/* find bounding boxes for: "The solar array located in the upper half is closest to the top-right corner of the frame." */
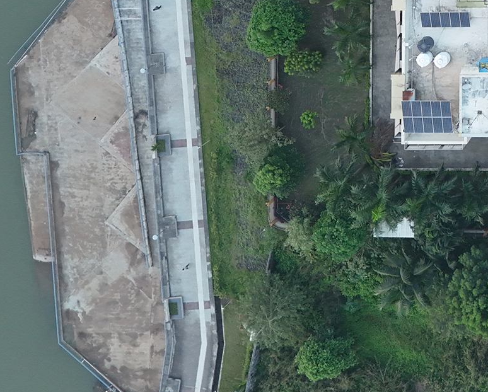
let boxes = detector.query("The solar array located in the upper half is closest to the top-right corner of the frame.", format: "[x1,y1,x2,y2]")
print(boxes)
[421,13,469,31]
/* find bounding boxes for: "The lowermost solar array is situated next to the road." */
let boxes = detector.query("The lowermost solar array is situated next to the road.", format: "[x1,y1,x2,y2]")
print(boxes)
[402,102,451,137]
